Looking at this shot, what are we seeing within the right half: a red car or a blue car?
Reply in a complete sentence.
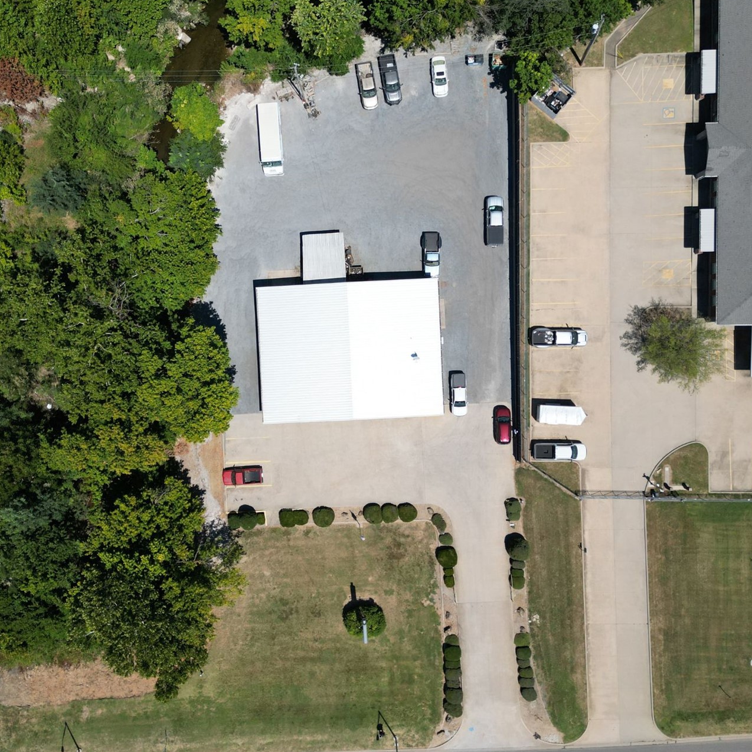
The feature located within the right half is a red car.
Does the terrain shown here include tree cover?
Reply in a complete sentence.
Yes, there is tree cover in the image.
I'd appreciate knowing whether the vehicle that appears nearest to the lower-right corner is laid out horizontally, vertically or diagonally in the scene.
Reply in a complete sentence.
The vehicle that appears nearest to the lower-right corner runs horizontally in the image.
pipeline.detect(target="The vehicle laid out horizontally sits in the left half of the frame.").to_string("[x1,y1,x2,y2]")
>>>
[224,467,265,485]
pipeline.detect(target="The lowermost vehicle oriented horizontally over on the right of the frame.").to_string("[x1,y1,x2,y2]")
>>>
[533,441,584,461]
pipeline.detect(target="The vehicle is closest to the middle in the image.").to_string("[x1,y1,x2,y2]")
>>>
[449,370,466,416]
